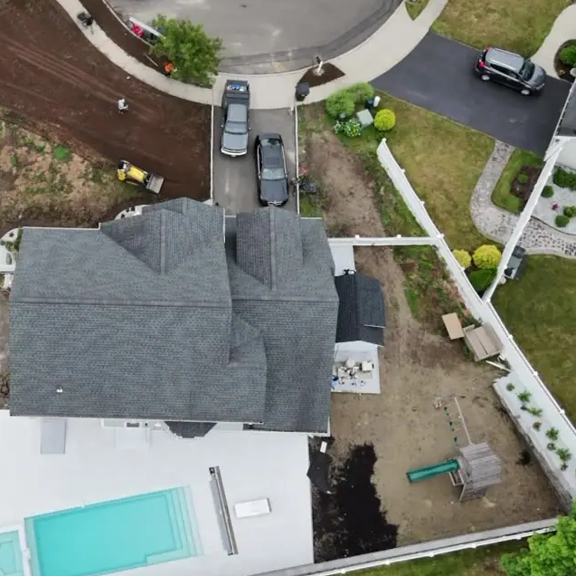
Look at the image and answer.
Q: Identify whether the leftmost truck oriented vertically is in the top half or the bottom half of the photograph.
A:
top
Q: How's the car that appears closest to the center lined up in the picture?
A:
vertically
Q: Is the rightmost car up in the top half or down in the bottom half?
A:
top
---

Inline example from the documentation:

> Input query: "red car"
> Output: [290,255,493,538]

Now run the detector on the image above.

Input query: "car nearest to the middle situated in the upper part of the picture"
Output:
[253,139,289,205]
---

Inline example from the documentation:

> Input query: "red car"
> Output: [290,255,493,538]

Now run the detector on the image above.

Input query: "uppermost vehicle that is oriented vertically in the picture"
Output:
[216,80,253,157]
